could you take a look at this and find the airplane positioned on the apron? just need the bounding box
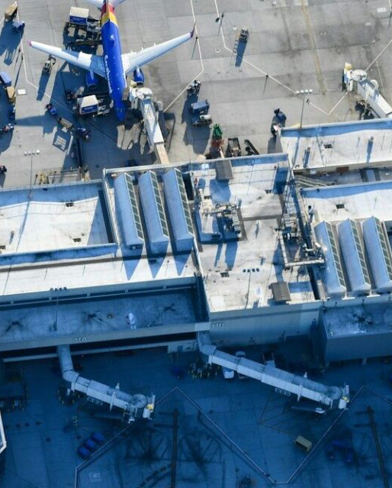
[25,0,196,121]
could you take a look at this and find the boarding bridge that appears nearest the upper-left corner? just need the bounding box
[124,76,168,167]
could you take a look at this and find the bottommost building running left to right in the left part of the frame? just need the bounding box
[0,290,206,363]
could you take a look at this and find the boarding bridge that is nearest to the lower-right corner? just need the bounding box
[199,328,354,411]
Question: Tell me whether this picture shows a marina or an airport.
airport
